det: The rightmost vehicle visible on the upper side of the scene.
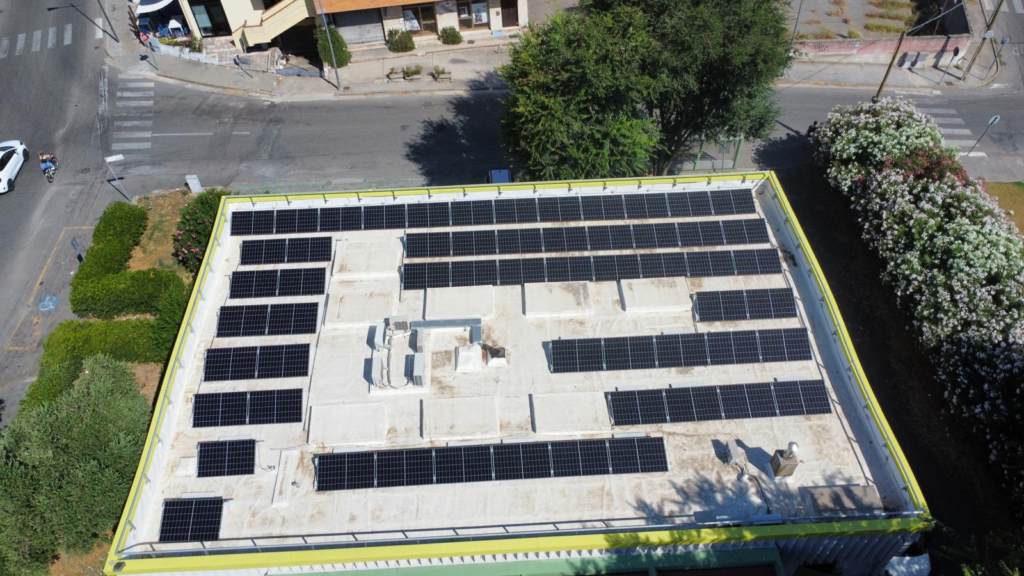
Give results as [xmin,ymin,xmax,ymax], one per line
[485,152,517,184]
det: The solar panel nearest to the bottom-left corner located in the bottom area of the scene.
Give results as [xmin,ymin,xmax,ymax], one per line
[158,496,230,543]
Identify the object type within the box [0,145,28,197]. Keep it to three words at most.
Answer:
car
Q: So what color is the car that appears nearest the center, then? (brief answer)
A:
black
